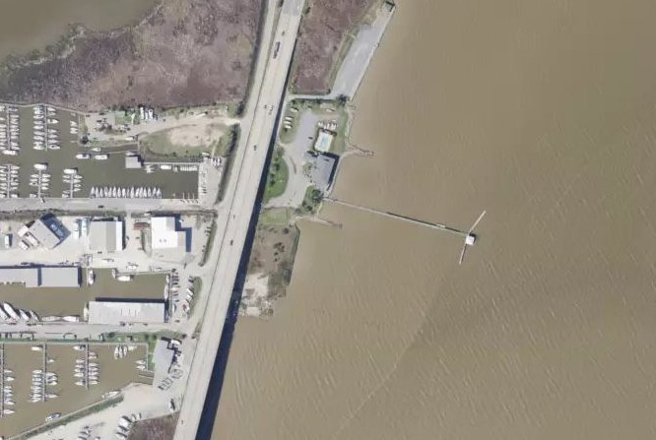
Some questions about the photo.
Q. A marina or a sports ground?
marina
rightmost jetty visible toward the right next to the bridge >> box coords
[323,197,485,264]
